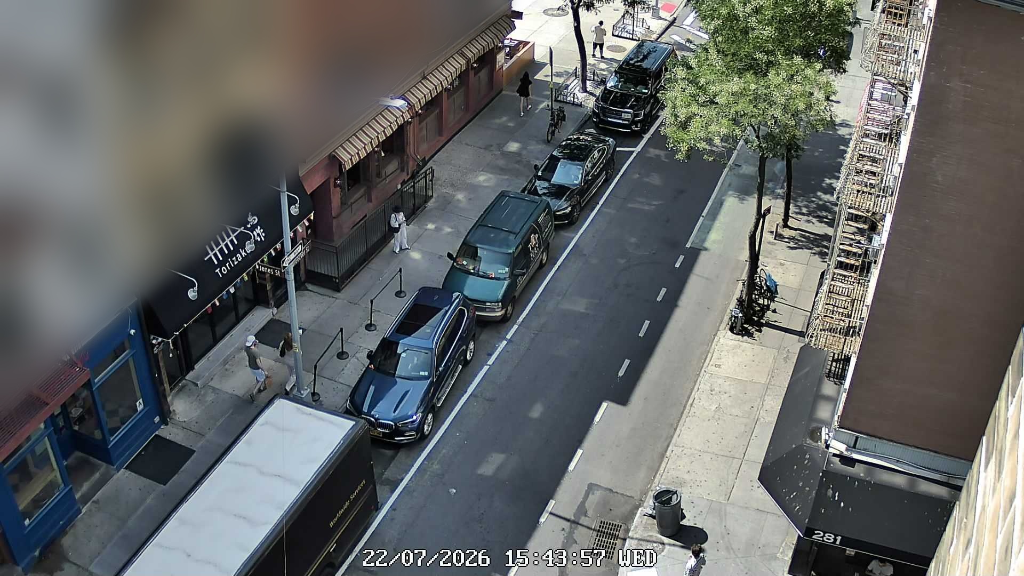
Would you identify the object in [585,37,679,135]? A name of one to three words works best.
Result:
car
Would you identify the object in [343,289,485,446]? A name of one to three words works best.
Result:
car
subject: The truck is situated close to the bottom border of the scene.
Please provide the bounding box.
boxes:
[117,391,376,576]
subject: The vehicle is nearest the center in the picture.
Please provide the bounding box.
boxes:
[438,186,559,326]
